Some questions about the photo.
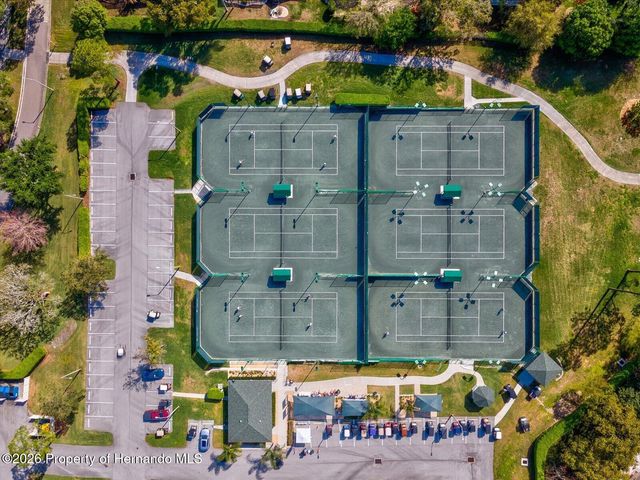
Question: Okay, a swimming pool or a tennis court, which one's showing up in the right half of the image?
tennis court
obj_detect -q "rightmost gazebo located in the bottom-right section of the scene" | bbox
[523,351,562,388]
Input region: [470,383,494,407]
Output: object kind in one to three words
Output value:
gazebo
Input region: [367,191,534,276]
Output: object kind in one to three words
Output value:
tennis court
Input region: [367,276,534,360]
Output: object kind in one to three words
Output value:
tennis court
